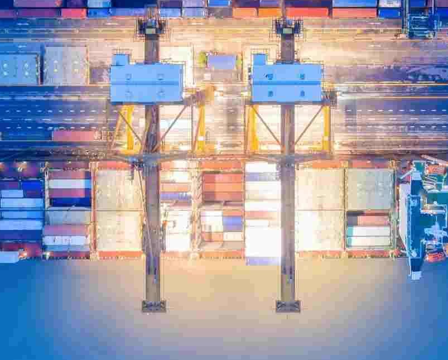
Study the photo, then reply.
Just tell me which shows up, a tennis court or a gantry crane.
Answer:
gantry crane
